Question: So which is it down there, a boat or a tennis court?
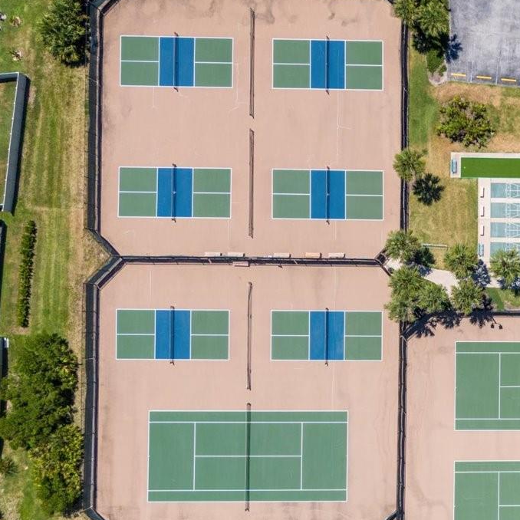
tennis court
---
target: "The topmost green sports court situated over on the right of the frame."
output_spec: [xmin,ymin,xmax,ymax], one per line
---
[272,36,382,96]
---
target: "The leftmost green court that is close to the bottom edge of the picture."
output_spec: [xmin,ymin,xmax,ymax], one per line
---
[147,403,349,512]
